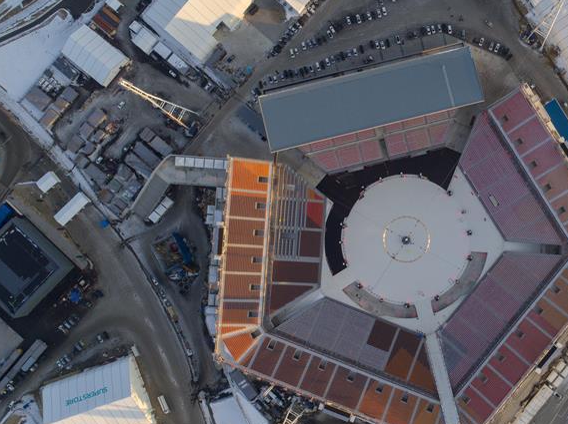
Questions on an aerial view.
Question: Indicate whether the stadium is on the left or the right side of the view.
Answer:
right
